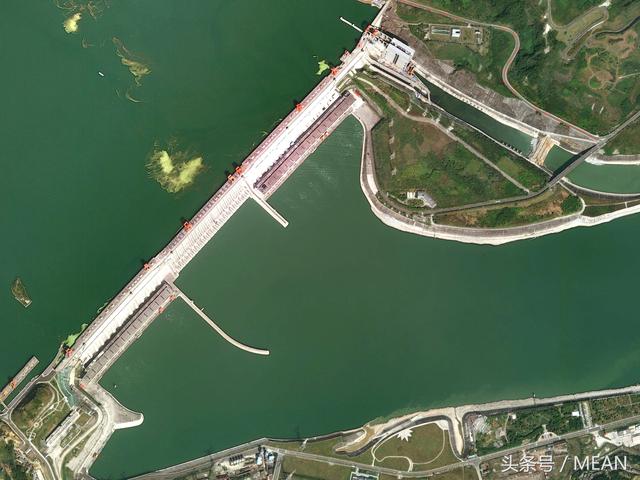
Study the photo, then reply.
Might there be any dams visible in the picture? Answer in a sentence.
Yes, there's a dam here.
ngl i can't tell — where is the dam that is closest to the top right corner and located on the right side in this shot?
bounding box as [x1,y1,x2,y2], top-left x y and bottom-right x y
[529,134,559,165]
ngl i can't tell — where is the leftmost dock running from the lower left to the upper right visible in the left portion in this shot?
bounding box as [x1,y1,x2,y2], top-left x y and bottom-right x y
[0,356,39,402]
